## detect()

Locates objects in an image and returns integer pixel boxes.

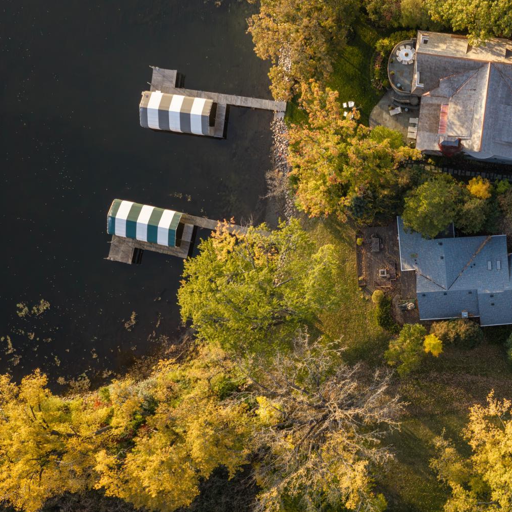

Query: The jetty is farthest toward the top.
[146,65,280,139]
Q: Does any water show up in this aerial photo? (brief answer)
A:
Yes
